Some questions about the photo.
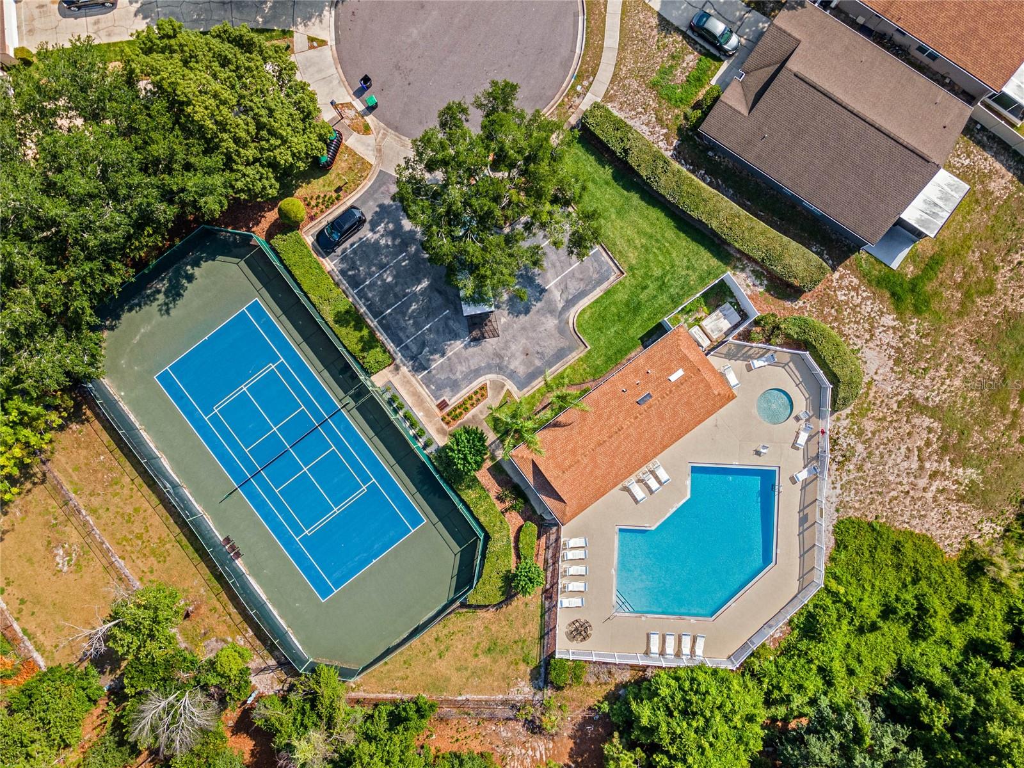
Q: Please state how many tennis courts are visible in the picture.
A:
1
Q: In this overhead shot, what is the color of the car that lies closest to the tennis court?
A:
black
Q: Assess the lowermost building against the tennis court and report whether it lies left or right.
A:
to its right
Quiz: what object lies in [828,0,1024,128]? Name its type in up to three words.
house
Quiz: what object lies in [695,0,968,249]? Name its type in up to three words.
house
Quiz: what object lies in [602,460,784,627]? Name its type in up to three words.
swimming pool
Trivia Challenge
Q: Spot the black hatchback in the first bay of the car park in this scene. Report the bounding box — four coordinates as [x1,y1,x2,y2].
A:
[316,206,366,251]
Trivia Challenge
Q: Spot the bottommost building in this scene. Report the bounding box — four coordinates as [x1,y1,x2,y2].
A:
[510,325,735,526]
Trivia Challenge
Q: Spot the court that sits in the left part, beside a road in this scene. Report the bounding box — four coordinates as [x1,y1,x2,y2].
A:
[101,235,484,664]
